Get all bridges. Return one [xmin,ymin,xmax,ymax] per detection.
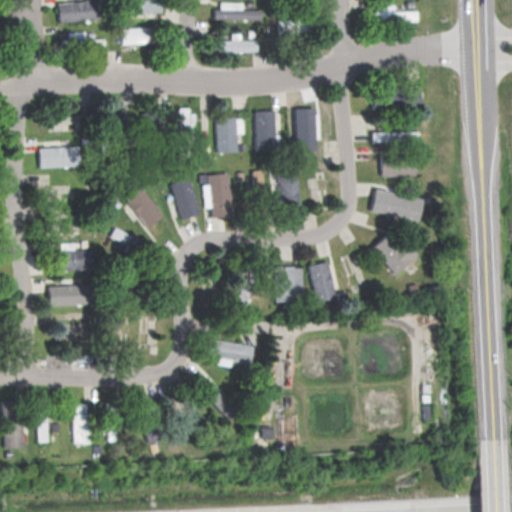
[478,440,511,512]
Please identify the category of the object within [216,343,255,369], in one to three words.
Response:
house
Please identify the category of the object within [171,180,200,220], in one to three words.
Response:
house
